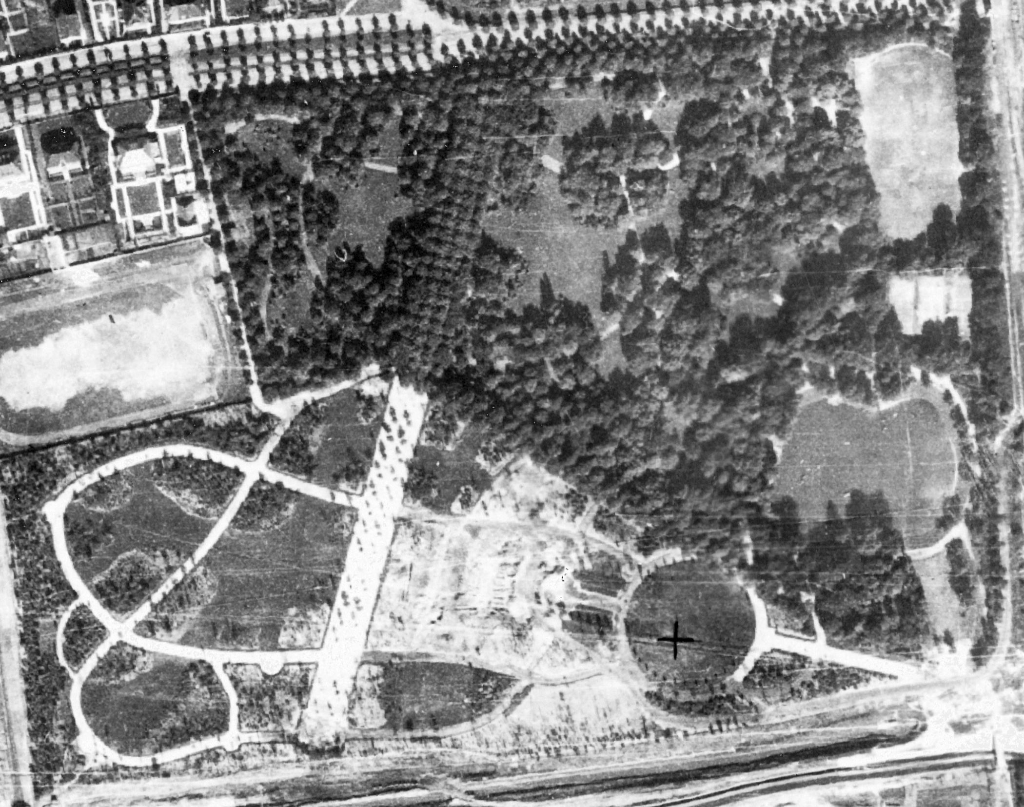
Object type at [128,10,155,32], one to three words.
house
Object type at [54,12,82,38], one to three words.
house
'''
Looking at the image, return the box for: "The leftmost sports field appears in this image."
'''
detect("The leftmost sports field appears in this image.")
[0,234,252,455]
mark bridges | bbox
[988,694,1012,807]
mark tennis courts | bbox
[888,276,972,342]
